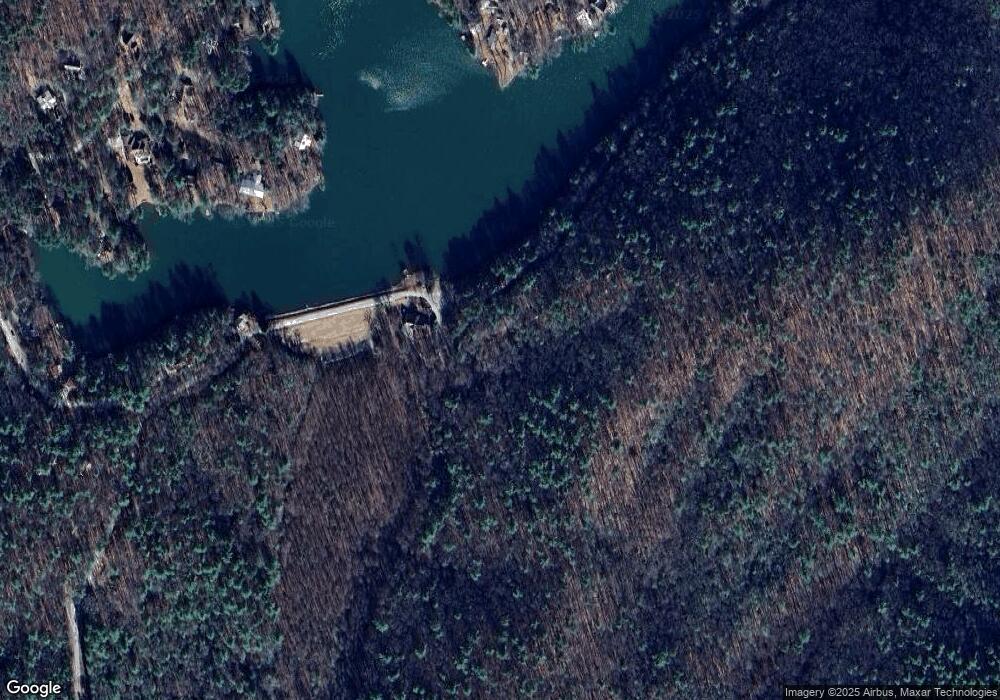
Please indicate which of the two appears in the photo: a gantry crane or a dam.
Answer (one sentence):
Visible in the photo is a dam.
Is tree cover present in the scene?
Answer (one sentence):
Yes, there's tree cover in this view.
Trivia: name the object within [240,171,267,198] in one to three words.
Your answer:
house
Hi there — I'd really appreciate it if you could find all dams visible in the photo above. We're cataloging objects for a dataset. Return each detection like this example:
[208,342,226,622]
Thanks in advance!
[259,282,406,352]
